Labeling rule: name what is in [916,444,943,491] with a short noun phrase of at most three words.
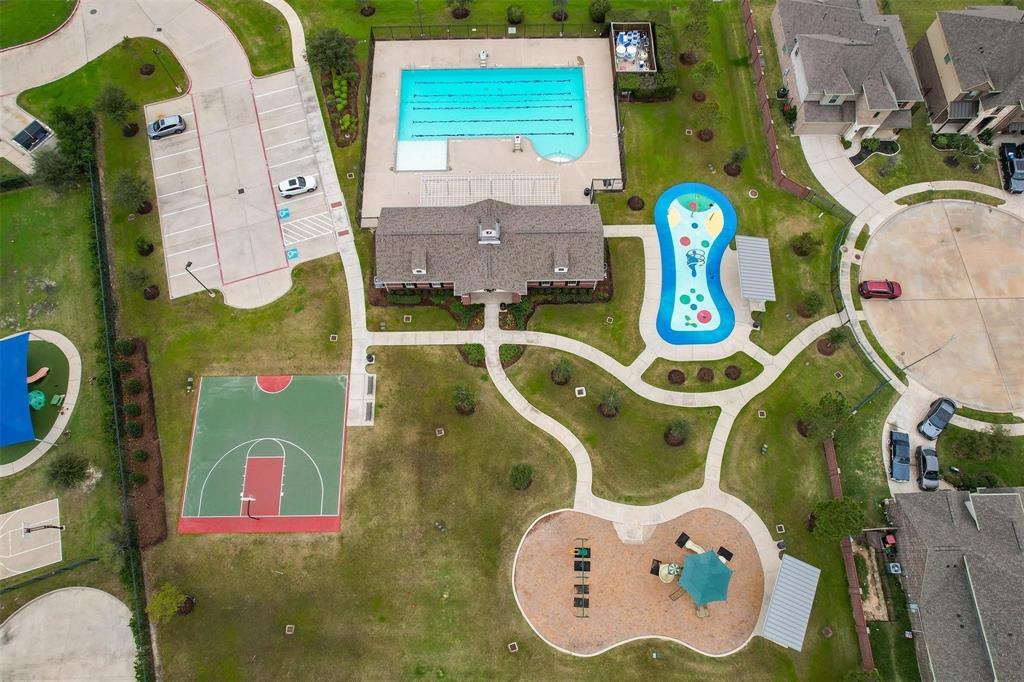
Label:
car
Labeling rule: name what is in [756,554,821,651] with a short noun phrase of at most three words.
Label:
building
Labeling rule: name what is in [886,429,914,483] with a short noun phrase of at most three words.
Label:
truck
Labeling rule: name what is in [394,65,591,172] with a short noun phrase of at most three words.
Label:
swimming pool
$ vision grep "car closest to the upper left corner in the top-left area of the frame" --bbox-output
[147,114,187,140]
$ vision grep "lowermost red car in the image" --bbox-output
[856,278,903,299]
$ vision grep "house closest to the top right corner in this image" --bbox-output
[913,10,1024,137]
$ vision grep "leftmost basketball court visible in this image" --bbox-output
[0,499,62,579]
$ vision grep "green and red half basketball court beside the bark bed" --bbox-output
[178,374,349,533]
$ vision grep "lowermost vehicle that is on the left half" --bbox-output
[277,175,318,199]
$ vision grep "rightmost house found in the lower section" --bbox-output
[887,483,1024,682]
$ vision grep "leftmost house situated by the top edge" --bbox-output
[772,0,924,141]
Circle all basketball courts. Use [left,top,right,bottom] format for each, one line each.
[0,499,62,579]
[178,374,349,533]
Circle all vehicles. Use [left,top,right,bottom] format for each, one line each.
[916,396,959,441]
[856,278,903,299]
[916,444,943,491]
[277,175,318,199]
[998,145,1024,193]
[886,429,914,483]
[147,114,187,140]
